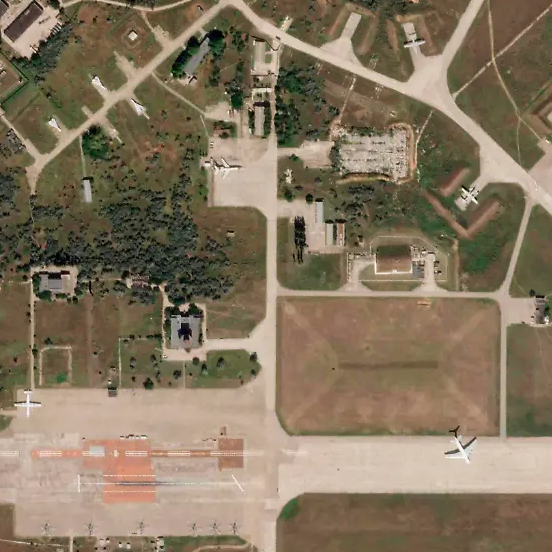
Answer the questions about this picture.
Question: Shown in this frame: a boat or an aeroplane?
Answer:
aeroplane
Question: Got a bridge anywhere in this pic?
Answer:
No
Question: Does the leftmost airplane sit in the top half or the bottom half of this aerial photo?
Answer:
bottom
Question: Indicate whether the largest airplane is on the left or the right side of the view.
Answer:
right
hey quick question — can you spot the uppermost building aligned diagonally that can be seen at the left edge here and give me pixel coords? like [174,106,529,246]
[5,1,46,42]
